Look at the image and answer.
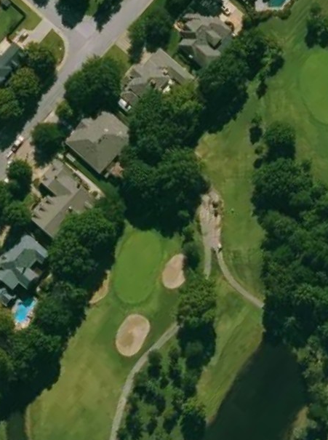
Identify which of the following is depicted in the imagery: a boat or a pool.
pool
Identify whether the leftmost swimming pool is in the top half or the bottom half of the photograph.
bottom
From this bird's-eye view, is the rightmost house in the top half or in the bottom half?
top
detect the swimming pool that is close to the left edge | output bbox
[14,293,39,325]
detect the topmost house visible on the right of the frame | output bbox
[176,14,233,68]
